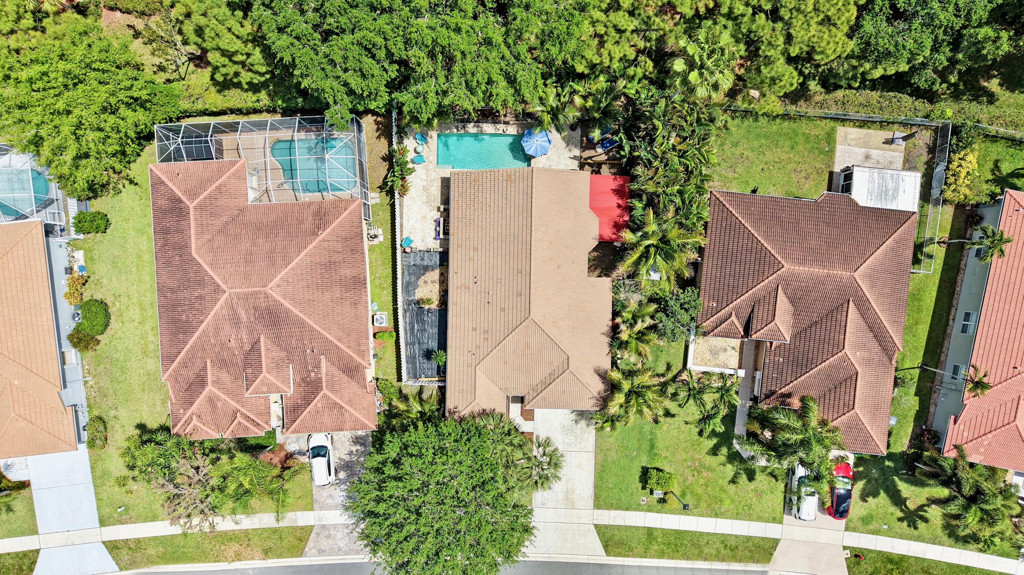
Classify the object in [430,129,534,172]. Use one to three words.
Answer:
swimming pool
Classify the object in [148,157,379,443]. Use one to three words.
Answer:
house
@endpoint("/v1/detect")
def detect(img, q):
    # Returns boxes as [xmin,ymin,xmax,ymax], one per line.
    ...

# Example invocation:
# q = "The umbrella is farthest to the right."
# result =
[893,131,919,146]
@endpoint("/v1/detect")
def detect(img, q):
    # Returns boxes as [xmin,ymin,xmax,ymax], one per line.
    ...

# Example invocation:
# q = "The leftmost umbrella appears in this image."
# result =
[521,127,551,157]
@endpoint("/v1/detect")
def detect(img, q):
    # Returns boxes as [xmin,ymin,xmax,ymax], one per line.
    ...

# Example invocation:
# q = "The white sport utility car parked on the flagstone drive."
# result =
[307,434,338,487]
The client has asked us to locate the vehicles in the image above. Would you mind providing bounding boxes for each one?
[307,434,338,487]
[823,459,856,517]
[791,461,824,521]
